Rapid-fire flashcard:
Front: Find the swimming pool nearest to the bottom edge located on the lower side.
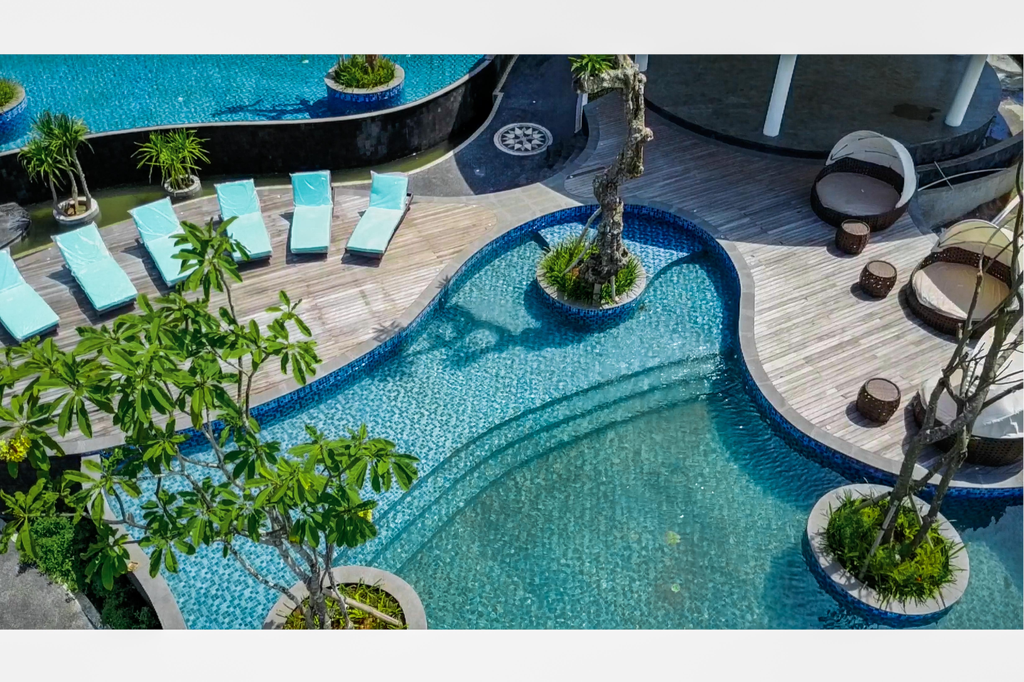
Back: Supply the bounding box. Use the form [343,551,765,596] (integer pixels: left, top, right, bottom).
[105,214,1024,682]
